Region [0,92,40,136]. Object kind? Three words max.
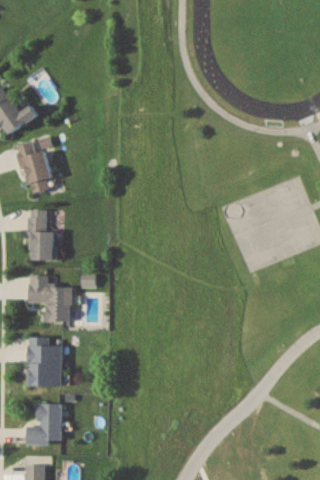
house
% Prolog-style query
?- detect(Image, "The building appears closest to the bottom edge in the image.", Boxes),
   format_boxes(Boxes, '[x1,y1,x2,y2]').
[26,464,46,480]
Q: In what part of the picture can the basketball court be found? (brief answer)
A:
right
